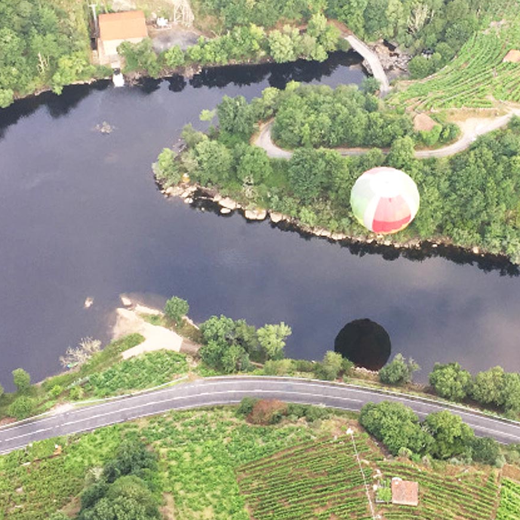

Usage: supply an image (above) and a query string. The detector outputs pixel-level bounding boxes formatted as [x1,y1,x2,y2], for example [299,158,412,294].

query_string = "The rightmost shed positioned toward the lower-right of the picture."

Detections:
[391,479,419,507]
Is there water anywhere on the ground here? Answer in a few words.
Yes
